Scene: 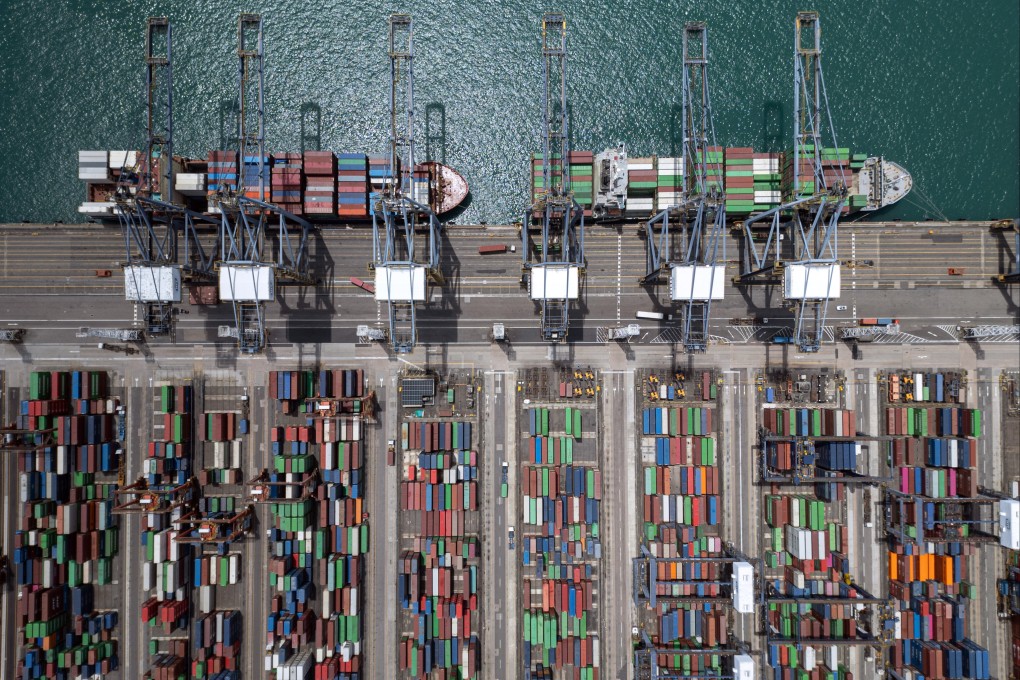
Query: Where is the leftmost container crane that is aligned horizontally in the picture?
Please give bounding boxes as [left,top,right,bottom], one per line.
[0,424,60,453]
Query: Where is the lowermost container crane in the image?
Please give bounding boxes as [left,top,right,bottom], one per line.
[632,624,761,680]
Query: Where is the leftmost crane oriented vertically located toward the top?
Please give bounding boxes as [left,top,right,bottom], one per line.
[106,12,250,337]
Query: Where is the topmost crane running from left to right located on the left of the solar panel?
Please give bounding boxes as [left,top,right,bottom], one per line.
[302,390,377,422]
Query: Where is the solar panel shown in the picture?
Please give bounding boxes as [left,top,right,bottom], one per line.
[402,380,433,405]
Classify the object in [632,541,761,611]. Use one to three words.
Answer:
container crane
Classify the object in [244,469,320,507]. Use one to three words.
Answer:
container crane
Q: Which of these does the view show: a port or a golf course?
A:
port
